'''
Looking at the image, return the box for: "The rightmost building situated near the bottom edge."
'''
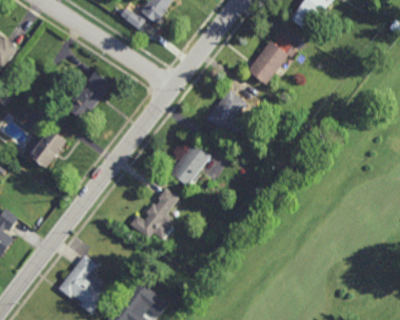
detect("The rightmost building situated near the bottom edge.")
[112,286,164,320]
